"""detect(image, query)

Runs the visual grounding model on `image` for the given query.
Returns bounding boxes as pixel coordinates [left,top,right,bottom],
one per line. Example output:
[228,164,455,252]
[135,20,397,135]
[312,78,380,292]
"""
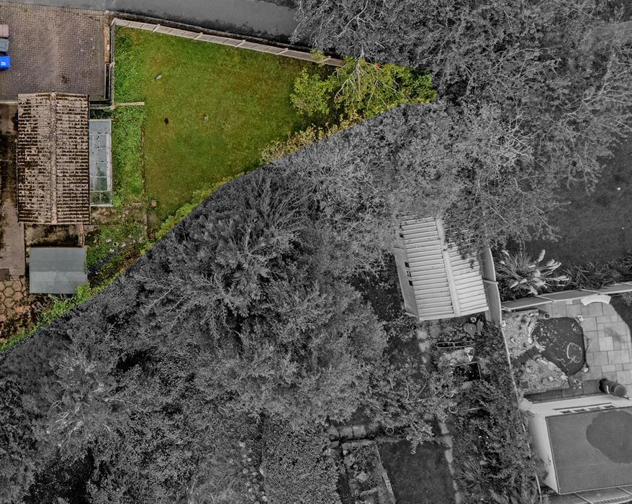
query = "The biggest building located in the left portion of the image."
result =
[15,92,92,225]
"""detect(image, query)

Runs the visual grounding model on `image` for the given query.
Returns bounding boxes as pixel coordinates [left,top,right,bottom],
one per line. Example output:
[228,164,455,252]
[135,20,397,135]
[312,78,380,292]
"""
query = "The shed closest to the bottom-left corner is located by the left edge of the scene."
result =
[28,246,88,294]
